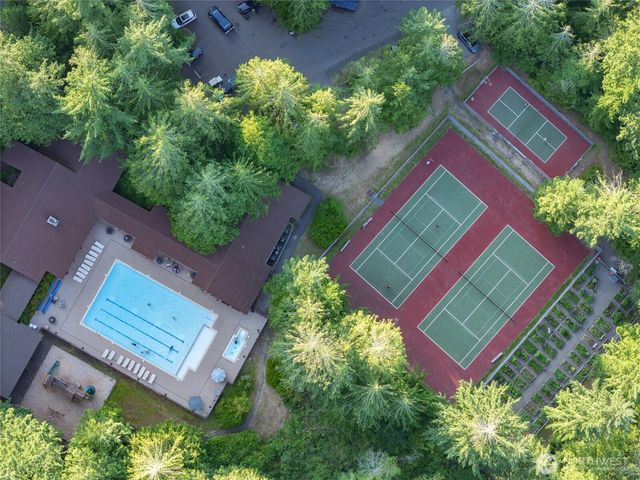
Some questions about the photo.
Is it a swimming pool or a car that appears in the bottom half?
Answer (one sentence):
What appears in the bottom half is a swimming pool.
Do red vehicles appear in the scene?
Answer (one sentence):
No, this view has no red vehicle in it.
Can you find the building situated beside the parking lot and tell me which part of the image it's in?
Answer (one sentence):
The building situated beside the parking lot appears toward the left of the photo.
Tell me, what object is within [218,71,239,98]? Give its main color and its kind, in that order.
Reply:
blue car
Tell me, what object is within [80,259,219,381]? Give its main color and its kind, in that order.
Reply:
blue swimming pool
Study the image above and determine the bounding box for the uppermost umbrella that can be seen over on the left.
[211,368,226,382]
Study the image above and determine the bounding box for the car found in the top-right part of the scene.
[454,28,480,55]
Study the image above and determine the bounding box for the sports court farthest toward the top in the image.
[467,68,590,178]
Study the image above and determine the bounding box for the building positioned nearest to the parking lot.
[0,111,311,314]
